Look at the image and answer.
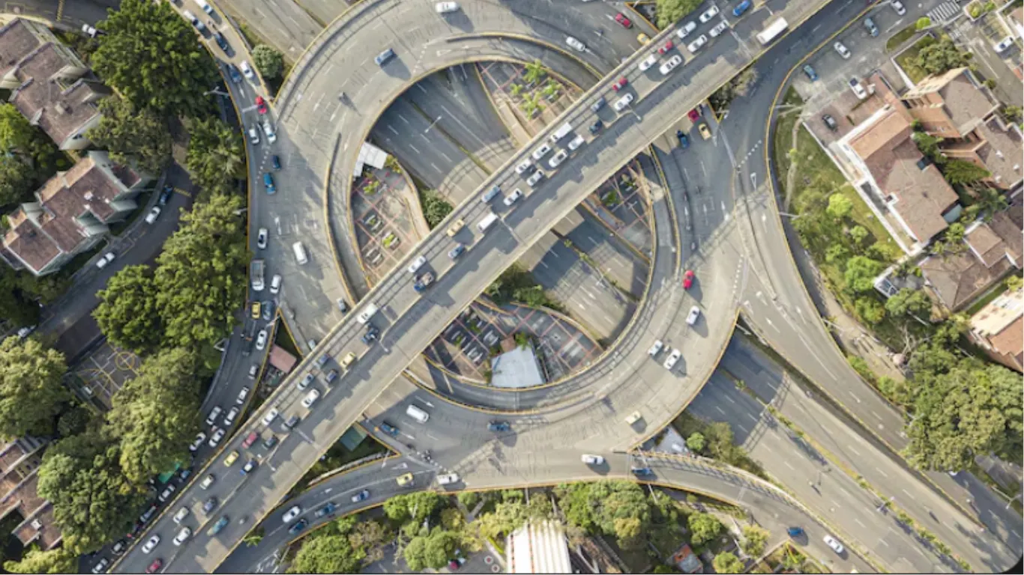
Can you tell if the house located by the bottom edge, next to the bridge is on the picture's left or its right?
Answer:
left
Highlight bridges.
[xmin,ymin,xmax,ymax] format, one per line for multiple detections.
[105,0,829,575]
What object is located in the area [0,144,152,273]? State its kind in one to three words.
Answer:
house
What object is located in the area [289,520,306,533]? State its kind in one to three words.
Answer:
vehicle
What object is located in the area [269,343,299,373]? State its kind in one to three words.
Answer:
shed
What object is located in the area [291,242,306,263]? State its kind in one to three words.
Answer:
vehicle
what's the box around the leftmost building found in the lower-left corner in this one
[0,436,78,547]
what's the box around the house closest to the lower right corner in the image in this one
[967,271,1024,373]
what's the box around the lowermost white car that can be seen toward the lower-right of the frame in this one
[824,537,843,552]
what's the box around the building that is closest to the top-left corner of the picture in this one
[0,18,111,152]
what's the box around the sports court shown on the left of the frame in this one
[64,339,153,418]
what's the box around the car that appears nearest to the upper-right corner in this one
[995,35,1015,50]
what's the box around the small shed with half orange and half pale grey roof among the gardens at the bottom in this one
[672,542,704,575]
